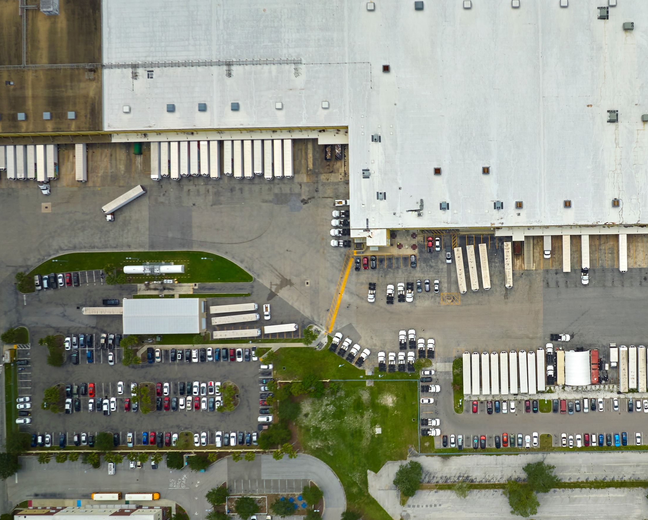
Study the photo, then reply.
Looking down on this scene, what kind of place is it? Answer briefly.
industrial area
